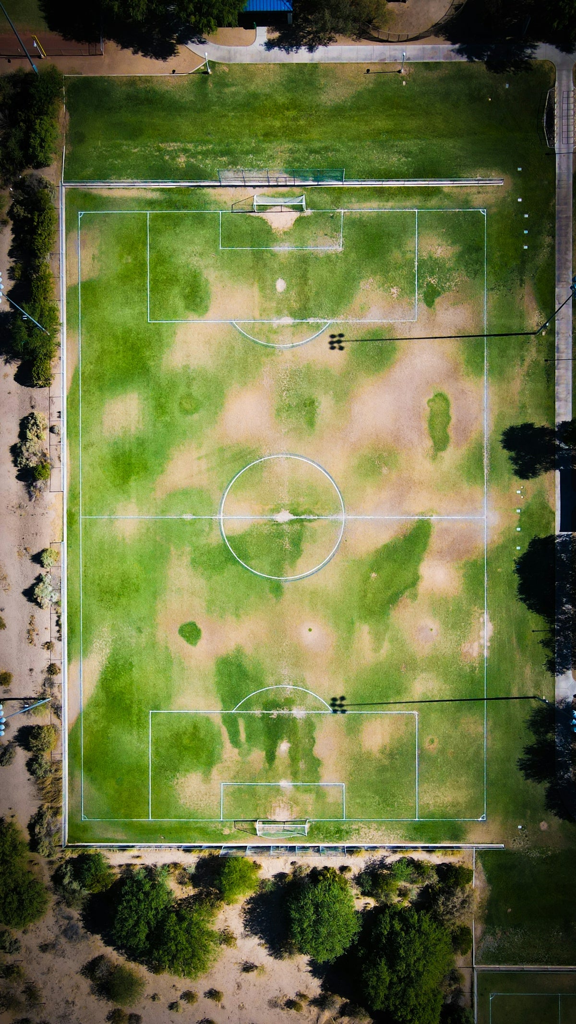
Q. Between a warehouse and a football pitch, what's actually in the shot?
football pitch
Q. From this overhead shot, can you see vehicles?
No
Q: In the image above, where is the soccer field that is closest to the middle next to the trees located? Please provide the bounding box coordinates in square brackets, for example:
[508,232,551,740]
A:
[65,185,502,844]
